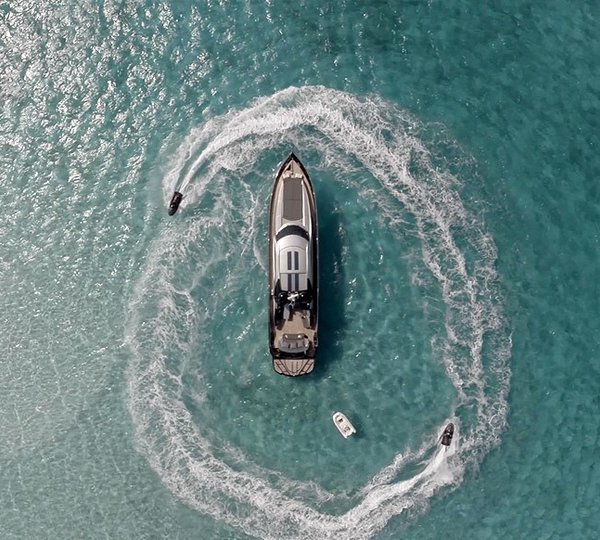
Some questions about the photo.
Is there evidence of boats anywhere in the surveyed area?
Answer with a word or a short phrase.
Yes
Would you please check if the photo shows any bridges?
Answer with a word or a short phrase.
No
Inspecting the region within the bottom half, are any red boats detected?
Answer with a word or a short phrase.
No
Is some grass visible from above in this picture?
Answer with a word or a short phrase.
No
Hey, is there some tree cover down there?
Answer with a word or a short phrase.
No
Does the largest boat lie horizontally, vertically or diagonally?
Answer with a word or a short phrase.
vertically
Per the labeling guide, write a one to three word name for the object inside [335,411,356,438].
boat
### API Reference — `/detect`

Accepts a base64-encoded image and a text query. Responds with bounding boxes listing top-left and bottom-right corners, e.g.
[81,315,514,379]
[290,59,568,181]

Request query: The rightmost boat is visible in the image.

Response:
[441,422,454,445]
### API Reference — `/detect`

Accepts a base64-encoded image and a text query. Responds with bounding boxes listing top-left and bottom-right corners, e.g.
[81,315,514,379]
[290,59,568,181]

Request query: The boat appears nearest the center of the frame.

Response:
[268,152,319,377]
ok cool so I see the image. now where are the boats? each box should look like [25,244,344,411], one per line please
[335,411,356,438]
[441,422,454,445]
[169,193,183,216]
[268,152,319,377]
